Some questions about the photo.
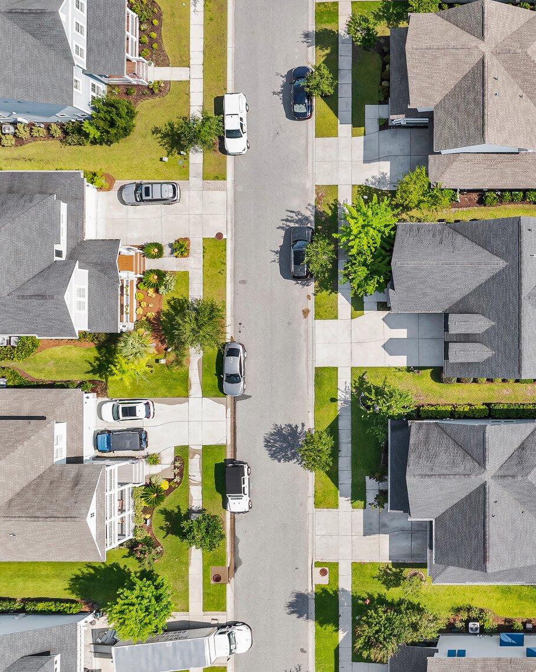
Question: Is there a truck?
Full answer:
Yes, a truck appears in the view.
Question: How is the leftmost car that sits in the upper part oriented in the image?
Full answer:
The leftmost car that sits in the upper part is oriented from side to side.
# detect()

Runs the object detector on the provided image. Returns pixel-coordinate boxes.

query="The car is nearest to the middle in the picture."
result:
[221,341,247,396]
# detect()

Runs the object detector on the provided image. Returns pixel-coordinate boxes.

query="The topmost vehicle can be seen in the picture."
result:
[287,64,313,119]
